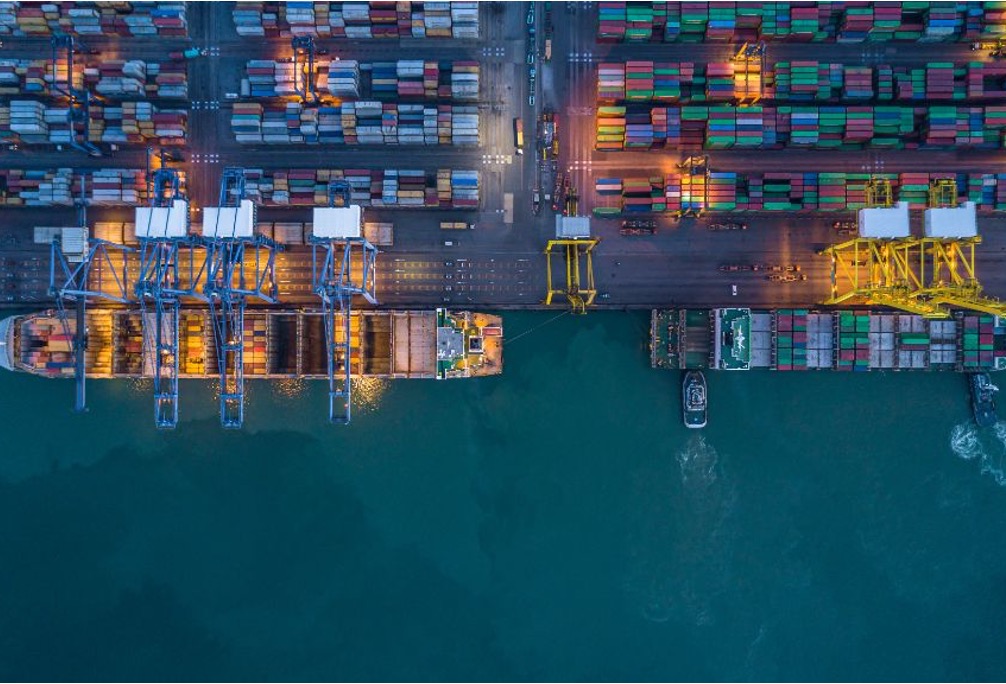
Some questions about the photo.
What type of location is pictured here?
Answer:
port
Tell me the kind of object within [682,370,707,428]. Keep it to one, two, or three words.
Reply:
boat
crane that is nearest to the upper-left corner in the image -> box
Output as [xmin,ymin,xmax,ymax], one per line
[55,39,98,104]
